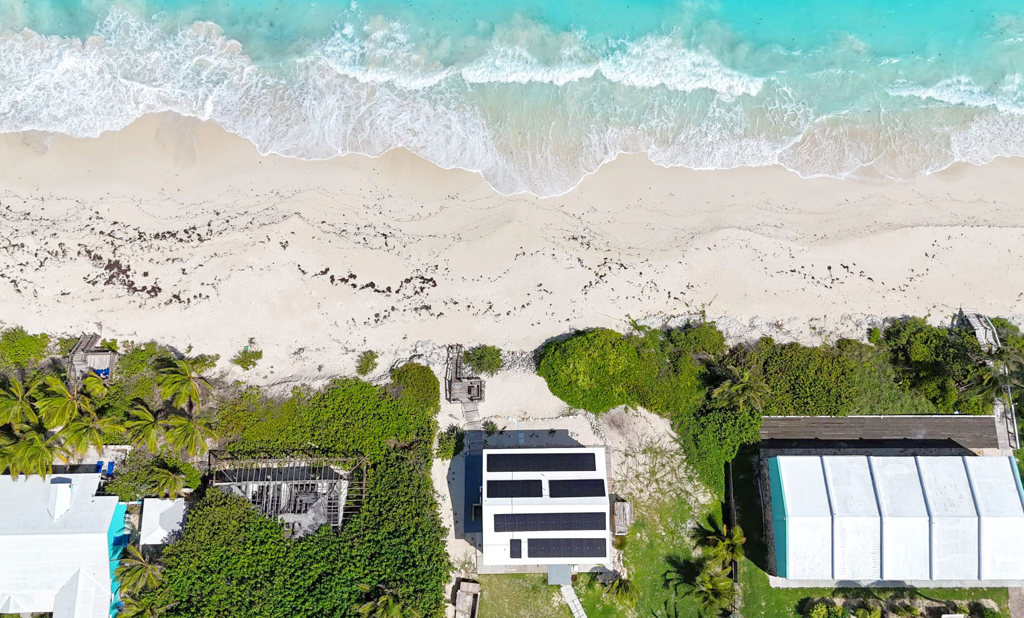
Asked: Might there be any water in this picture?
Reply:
Yes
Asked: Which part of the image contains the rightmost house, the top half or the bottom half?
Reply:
bottom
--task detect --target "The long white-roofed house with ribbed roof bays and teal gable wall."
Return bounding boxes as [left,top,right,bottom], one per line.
[760,456,1024,580]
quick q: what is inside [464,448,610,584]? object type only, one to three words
house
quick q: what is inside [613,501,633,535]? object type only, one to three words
shed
